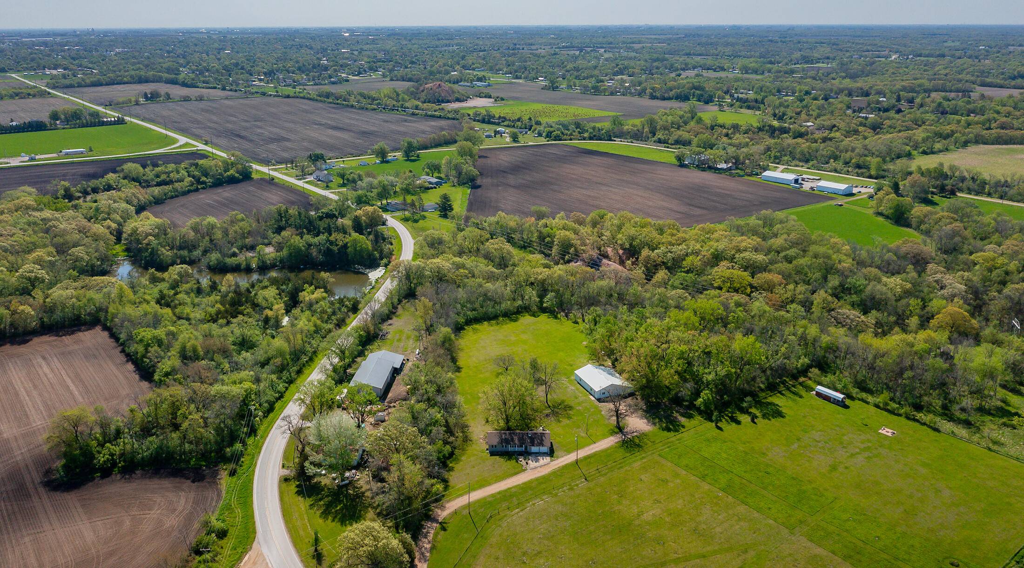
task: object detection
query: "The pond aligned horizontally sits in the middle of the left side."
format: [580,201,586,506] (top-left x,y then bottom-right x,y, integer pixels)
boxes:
[111,260,383,310]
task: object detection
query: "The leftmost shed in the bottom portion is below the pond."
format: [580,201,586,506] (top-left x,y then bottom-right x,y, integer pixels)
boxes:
[348,349,410,397]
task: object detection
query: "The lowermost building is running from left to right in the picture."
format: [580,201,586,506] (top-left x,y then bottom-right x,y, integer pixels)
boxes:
[487,431,551,457]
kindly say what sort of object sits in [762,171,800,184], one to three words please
shed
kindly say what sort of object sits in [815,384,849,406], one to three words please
building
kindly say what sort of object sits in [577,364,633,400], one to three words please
barn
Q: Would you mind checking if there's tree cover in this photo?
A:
Yes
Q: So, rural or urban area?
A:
rural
